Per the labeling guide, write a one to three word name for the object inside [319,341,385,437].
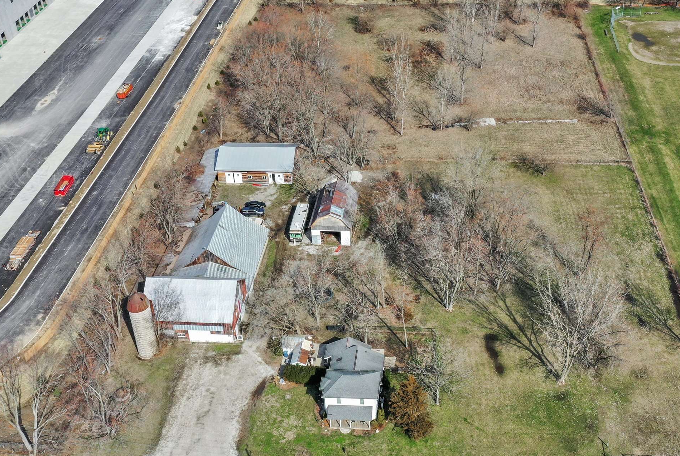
house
